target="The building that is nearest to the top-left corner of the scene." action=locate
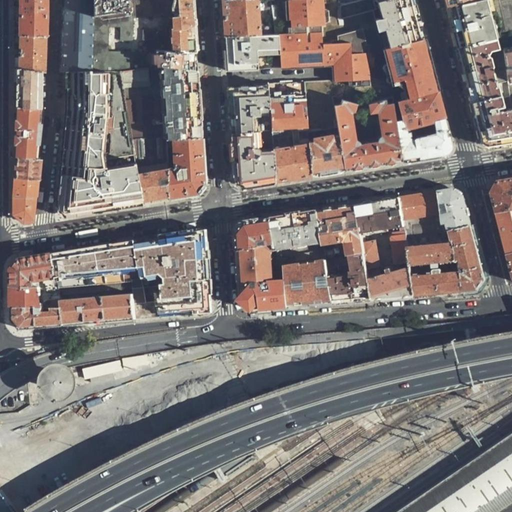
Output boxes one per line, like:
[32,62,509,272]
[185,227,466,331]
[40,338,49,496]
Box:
[18,0,50,37]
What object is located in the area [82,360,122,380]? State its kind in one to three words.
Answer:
shed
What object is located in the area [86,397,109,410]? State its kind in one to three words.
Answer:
vehicle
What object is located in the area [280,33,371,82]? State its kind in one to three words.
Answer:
building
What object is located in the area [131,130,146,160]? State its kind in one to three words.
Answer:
house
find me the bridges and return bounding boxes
[24,331,512,512]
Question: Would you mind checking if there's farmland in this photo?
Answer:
No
